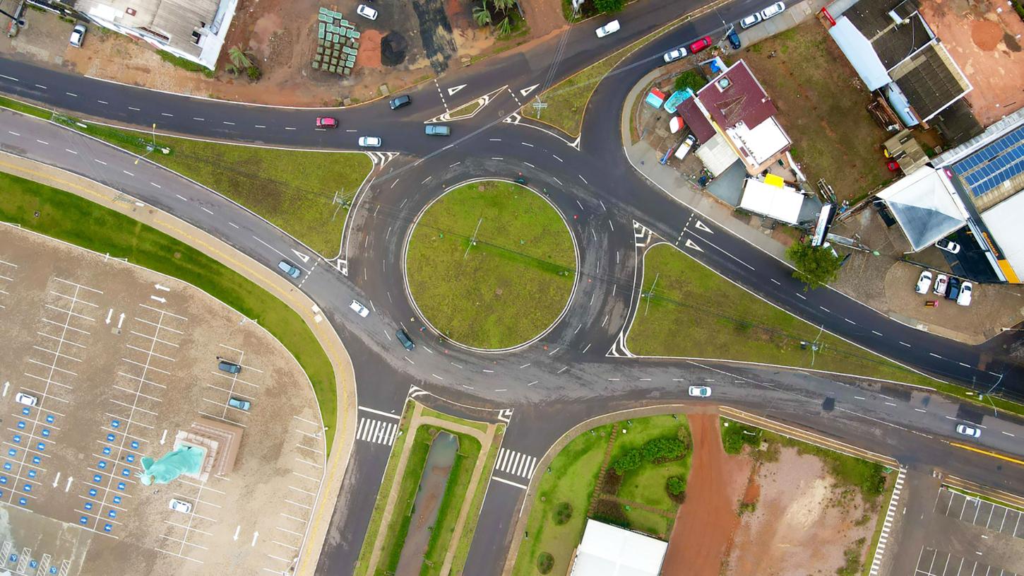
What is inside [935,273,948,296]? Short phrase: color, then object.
white vehicle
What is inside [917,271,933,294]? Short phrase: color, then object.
white car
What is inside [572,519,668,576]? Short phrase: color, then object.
white tent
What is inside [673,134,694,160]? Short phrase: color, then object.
white vehicle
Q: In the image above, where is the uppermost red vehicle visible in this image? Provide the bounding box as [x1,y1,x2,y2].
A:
[689,35,714,52]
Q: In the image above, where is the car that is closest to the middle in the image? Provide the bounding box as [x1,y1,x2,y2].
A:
[395,328,413,350]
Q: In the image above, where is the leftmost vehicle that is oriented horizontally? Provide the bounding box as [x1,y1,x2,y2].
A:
[13,394,36,406]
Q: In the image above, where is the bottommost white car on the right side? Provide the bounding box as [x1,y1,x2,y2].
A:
[958,424,982,437]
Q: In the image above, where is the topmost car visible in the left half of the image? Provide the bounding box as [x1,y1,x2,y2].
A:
[355,3,378,19]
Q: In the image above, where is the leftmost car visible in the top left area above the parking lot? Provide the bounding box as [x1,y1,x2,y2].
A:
[67,22,84,47]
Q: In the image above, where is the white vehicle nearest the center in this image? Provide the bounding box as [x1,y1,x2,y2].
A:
[347,300,369,316]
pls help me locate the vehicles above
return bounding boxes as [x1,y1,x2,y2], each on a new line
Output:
[388,94,410,108]
[673,134,694,160]
[663,47,688,61]
[355,3,378,19]
[276,260,299,277]
[937,238,962,253]
[760,0,787,18]
[395,328,413,350]
[358,135,379,146]
[347,300,369,316]
[728,27,741,49]
[169,501,190,513]
[958,424,982,437]
[949,277,961,301]
[740,11,762,27]
[959,281,975,306]
[689,35,714,52]
[886,160,899,169]
[595,20,619,36]
[425,124,449,135]
[315,116,336,127]
[880,203,900,230]
[13,394,36,406]
[935,273,948,296]
[689,386,711,397]
[917,271,933,294]
[67,22,84,47]
[216,361,239,373]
